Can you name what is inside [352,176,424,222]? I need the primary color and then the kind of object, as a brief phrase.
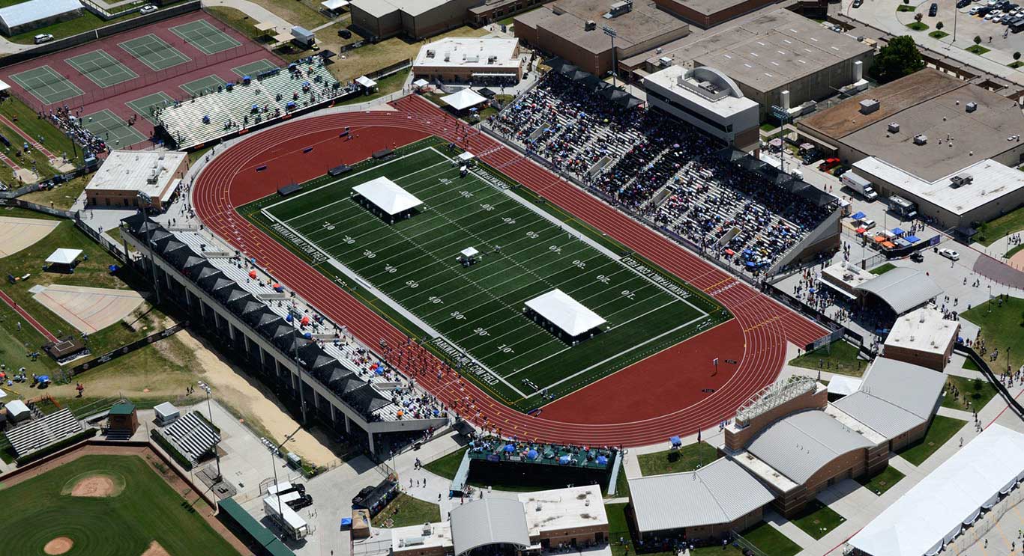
white tent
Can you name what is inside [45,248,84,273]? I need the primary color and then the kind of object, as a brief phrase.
white tent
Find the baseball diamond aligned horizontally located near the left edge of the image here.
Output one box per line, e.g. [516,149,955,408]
[0,455,243,556]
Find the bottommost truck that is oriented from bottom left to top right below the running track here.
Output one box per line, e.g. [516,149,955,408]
[350,481,376,502]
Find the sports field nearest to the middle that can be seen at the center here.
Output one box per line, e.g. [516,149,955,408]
[237,135,735,413]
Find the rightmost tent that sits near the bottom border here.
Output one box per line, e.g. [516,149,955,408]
[847,424,1024,556]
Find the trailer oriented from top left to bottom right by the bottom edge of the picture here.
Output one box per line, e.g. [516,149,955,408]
[264,495,308,542]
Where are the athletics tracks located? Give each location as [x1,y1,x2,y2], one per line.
[197,110,786,449]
